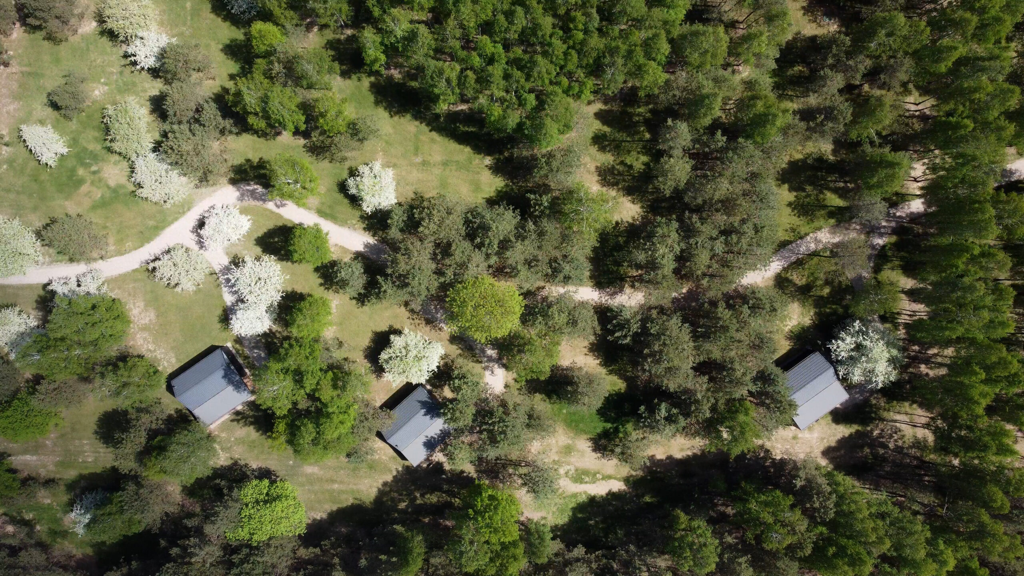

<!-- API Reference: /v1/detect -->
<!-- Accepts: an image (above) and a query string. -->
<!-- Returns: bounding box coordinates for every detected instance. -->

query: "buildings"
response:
[778,348,851,432]
[377,382,458,467]
[172,346,262,427]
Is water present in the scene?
No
